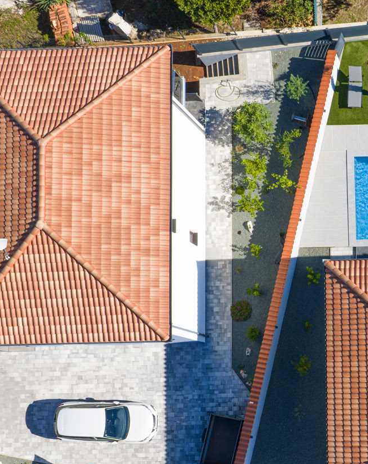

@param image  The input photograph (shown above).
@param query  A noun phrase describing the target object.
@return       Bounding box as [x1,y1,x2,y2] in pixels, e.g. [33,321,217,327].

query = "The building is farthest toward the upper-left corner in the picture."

[0,41,208,347]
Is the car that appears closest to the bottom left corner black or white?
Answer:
white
